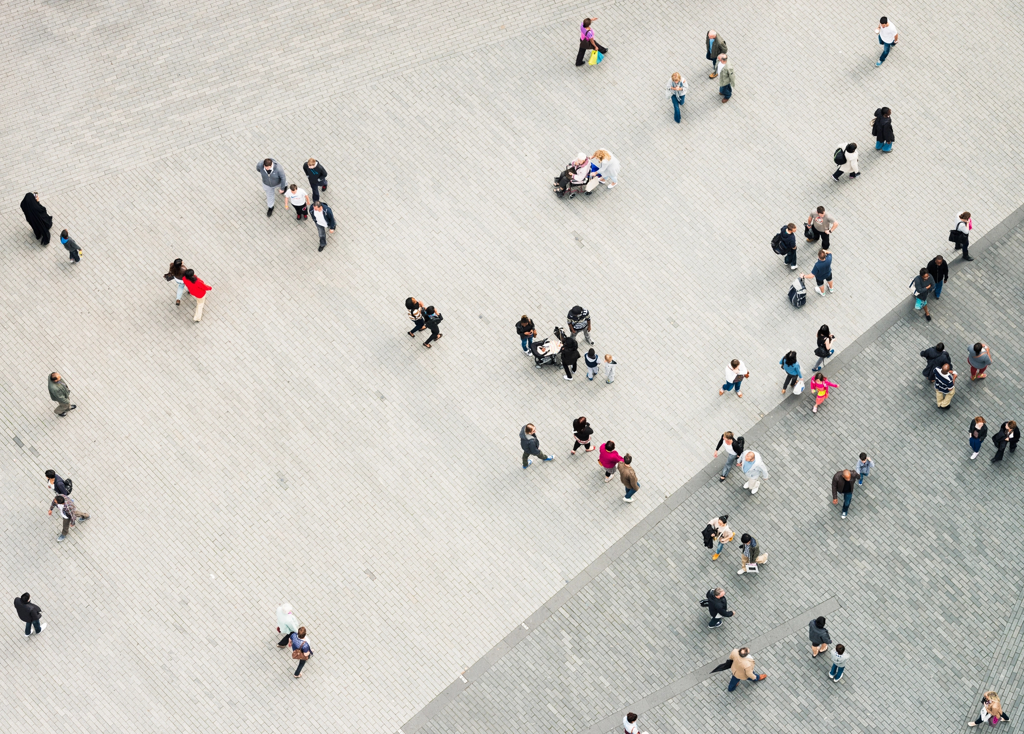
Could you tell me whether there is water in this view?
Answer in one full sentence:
No, water can't be seen anywhere here.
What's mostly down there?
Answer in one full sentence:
The scene is dominated by paved ground.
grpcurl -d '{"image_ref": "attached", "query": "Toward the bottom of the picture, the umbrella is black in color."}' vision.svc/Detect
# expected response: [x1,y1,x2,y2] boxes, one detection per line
[708,661,730,675]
